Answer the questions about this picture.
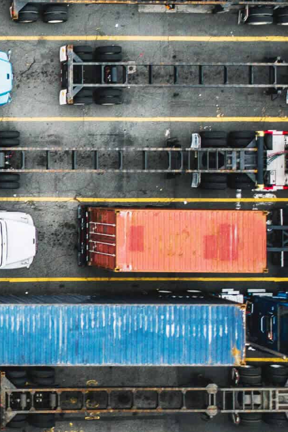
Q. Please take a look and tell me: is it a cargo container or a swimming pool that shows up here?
cargo container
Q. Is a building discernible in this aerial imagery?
No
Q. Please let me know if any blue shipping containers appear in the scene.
Yes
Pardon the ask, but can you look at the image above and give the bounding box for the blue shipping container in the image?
[0,295,246,366]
